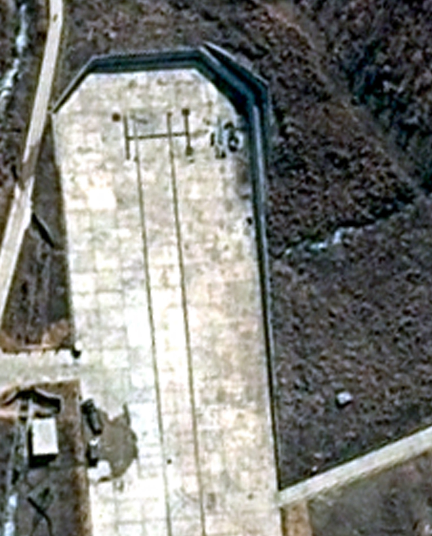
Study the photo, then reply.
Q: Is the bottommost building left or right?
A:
left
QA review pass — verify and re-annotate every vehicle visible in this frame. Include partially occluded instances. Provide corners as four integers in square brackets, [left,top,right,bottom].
[89,439,100,463]
[81,398,103,432]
